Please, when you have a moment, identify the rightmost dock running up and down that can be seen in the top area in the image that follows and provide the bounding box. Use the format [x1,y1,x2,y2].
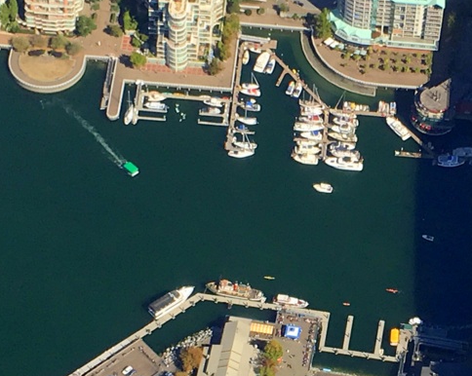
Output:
[319,104,341,161]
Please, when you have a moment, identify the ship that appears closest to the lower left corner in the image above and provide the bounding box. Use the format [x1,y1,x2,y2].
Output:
[149,283,197,314]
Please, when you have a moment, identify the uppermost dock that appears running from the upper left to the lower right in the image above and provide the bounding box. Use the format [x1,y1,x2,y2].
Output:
[269,42,310,88]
